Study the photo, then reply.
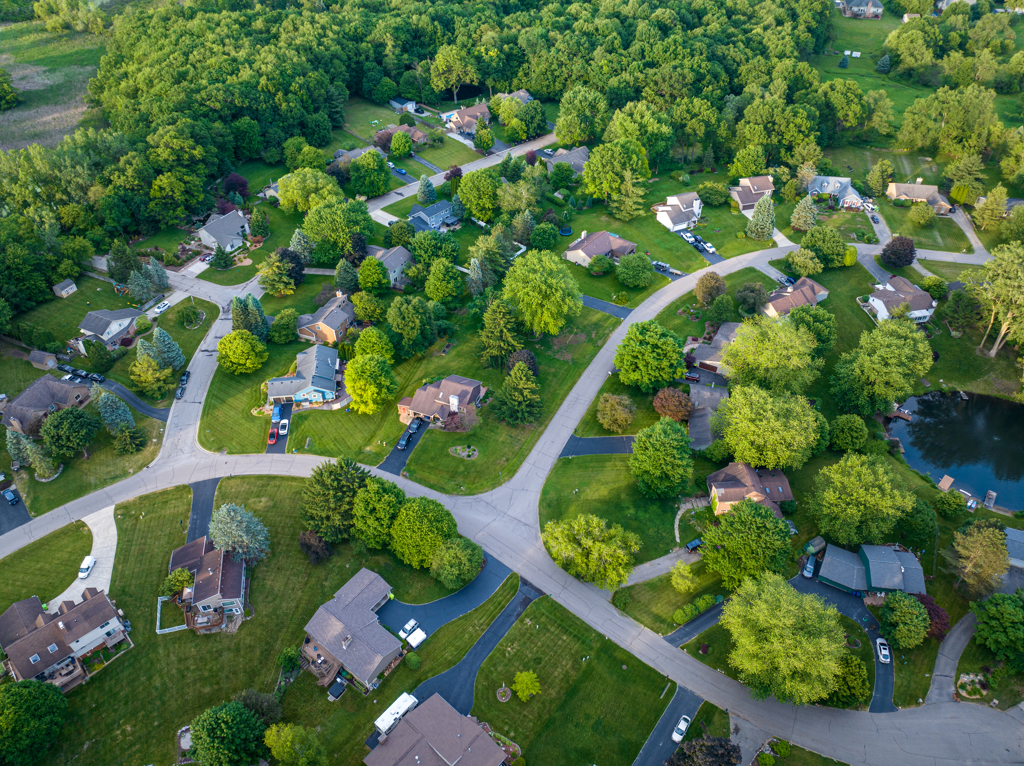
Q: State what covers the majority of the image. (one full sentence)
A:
The largest share of the image is taken up by trees.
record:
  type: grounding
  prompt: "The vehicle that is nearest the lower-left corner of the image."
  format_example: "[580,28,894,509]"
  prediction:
[77,554,96,579]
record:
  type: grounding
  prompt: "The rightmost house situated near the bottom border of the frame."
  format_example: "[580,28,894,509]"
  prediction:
[367,693,510,766]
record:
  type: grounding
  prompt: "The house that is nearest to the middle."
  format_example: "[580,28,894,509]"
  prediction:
[398,374,481,429]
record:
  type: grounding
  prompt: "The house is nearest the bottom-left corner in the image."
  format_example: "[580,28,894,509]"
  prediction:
[0,581,131,694]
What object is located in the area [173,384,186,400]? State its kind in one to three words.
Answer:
vehicle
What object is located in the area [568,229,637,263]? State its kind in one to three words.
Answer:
house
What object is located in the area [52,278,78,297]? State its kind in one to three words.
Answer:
shed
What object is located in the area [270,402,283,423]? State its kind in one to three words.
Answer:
vehicle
